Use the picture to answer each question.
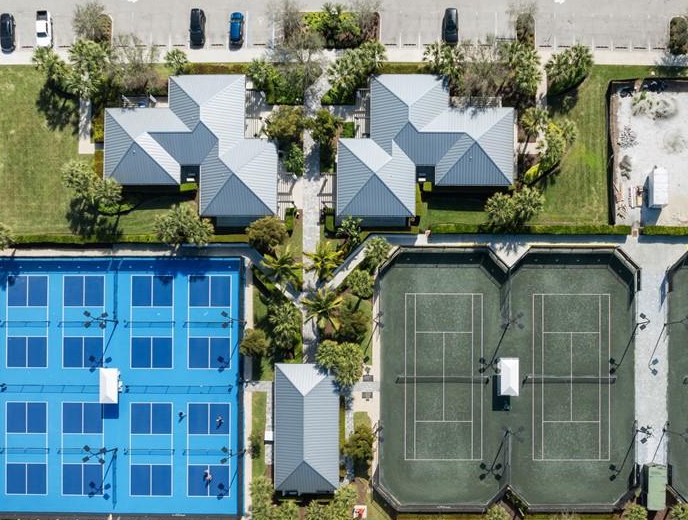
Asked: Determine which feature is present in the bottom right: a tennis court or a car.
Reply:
tennis court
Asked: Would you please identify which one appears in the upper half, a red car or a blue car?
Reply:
blue car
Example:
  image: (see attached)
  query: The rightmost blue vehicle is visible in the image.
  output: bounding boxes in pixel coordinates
[227,12,245,46]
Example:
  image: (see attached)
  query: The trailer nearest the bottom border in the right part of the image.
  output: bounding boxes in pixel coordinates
[647,164,668,207]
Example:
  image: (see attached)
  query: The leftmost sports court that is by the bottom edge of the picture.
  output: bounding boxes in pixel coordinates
[0,385,56,516]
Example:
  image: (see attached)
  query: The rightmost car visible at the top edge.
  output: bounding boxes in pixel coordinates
[442,7,460,46]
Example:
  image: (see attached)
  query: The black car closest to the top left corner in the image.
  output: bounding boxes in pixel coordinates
[0,14,17,52]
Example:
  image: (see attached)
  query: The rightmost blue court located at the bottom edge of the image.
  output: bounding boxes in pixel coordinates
[181,385,244,516]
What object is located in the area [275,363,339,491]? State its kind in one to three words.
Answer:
building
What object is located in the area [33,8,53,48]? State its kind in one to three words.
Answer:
vehicle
